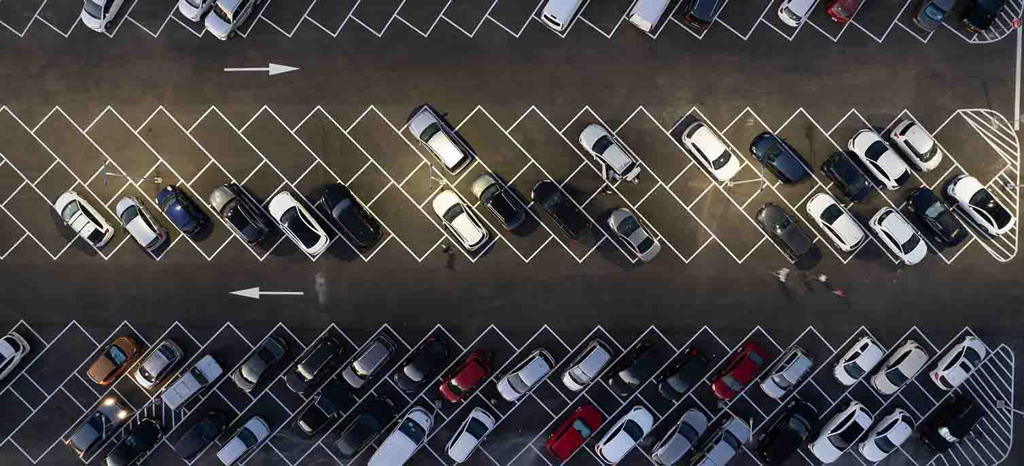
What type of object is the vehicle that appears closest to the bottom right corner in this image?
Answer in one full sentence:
What you see as the vehicle that appears closest to the bottom right corner is an automobile.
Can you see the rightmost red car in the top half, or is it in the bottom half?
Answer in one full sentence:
The top half of the photo is where the rightmost red car is.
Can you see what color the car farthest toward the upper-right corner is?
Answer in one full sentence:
In this view, the car farthest toward the upper-right corner is black.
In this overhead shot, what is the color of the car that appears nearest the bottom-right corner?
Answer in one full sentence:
The color of the car that appears nearest the bottom-right corner is black.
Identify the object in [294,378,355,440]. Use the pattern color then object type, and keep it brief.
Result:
black truck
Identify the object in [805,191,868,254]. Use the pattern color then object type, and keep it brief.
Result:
white car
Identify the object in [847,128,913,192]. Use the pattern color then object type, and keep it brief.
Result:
white car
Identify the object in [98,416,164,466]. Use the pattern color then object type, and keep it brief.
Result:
black car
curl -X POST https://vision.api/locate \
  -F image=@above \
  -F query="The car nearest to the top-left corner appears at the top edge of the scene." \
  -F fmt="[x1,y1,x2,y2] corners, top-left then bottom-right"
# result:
[83,0,131,34]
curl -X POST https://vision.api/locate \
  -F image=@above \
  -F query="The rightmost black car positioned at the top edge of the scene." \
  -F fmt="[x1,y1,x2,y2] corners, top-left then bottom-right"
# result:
[961,0,1011,36]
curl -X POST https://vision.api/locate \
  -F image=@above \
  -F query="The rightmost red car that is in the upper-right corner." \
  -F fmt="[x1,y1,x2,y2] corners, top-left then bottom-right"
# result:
[827,0,869,26]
